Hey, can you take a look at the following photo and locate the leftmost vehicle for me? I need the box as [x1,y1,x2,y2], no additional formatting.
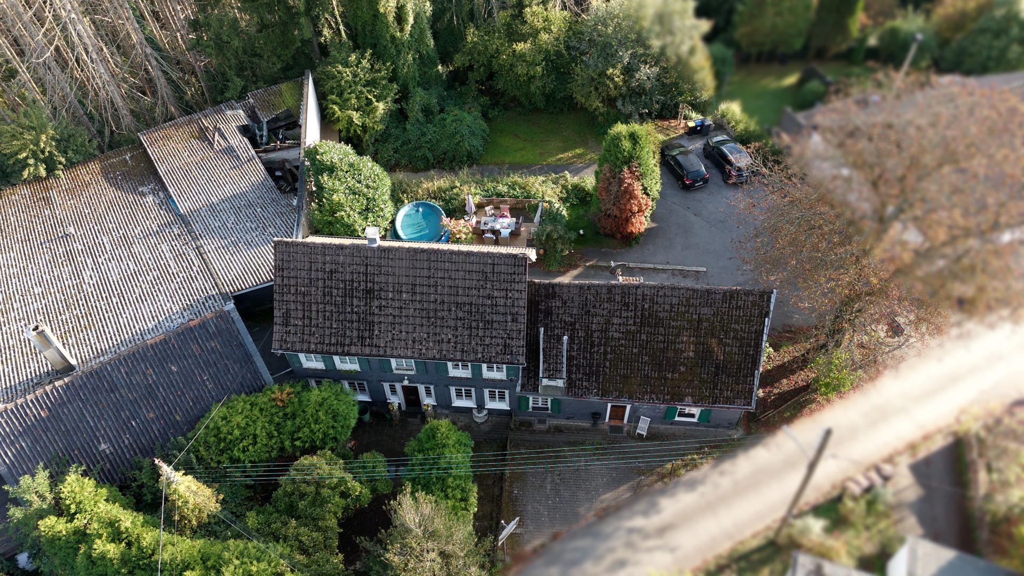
[664,143,708,185]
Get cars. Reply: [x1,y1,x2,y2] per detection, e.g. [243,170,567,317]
[705,135,751,176]
[664,143,708,185]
